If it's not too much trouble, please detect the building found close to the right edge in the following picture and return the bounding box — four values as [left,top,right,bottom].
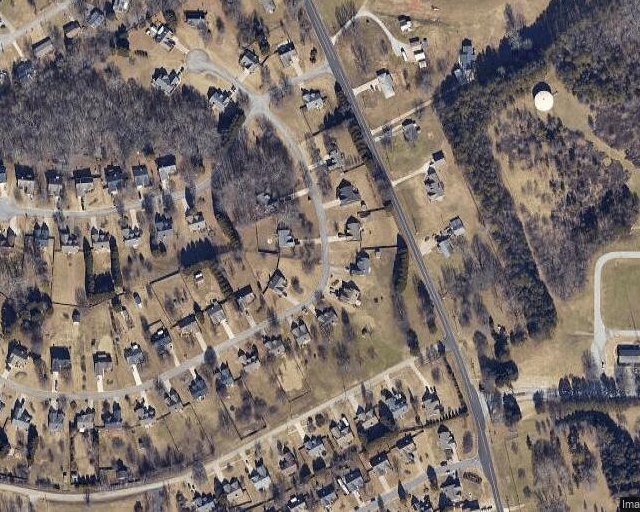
[619,349,640,363]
